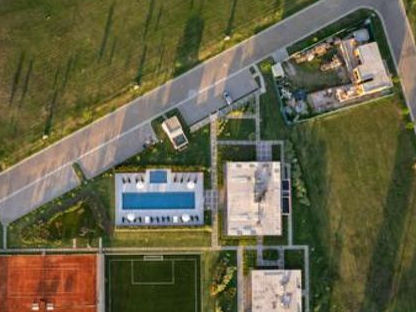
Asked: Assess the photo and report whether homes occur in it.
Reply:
Yes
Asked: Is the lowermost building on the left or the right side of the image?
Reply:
right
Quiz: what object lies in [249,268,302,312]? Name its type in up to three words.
building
